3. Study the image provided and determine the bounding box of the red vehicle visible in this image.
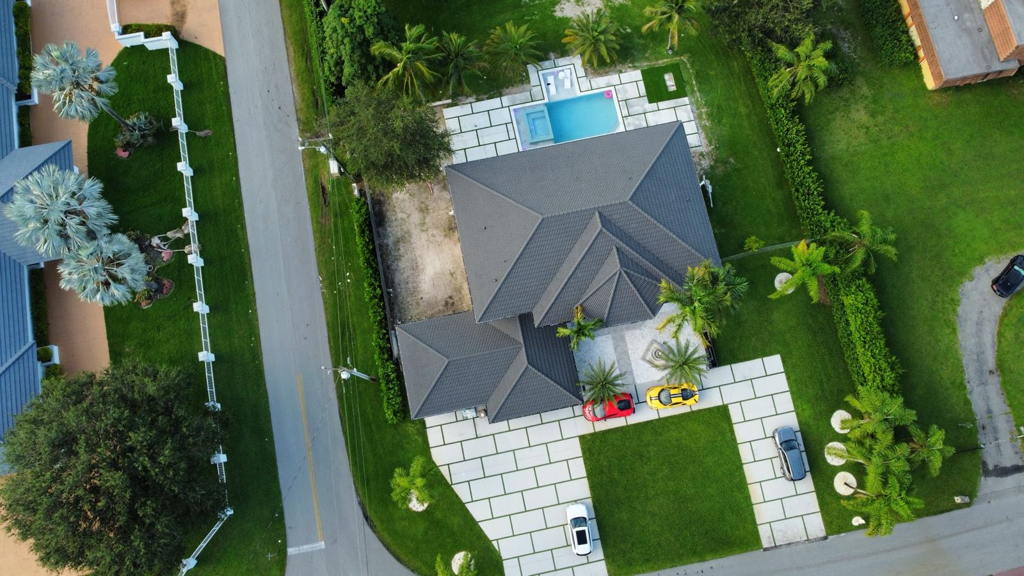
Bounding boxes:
[583,395,635,426]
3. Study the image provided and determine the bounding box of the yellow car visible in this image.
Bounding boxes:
[646,382,699,411]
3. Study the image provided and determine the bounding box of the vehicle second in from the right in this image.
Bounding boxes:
[771,425,807,483]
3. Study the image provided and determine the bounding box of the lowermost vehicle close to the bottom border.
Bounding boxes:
[566,501,593,558]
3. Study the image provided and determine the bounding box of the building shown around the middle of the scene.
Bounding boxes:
[394,119,719,425]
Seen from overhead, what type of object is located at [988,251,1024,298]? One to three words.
car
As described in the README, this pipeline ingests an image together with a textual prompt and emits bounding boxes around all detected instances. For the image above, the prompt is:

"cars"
[646,382,699,411]
[583,395,635,426]
[988,251,1024,298]
[566,501,593,558]
[771,425,807,483]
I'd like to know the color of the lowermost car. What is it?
white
